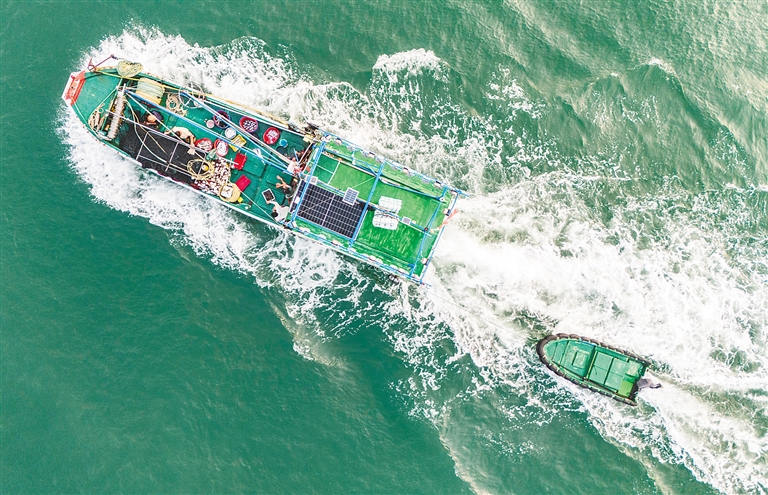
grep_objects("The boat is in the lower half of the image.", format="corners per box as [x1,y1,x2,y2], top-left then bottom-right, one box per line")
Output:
[537,332,662,404]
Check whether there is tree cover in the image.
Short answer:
No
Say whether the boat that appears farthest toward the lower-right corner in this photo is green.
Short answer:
Yes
